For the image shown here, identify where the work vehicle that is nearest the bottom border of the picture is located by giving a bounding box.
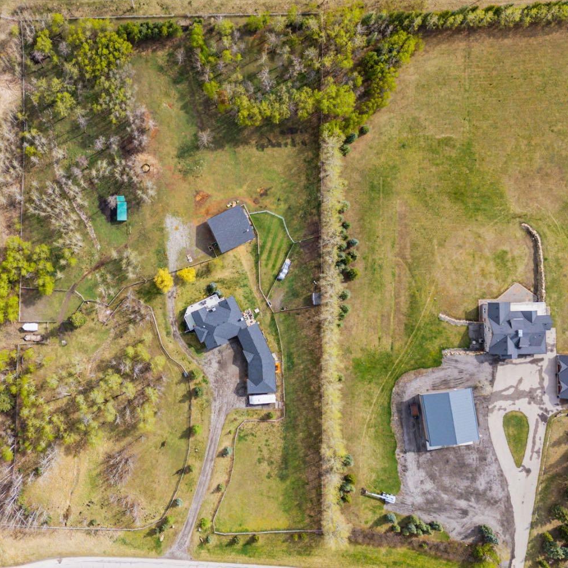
[361,486,398,504]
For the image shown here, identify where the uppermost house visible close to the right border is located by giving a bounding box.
[480,302,553,359]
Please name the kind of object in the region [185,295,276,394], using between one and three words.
house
